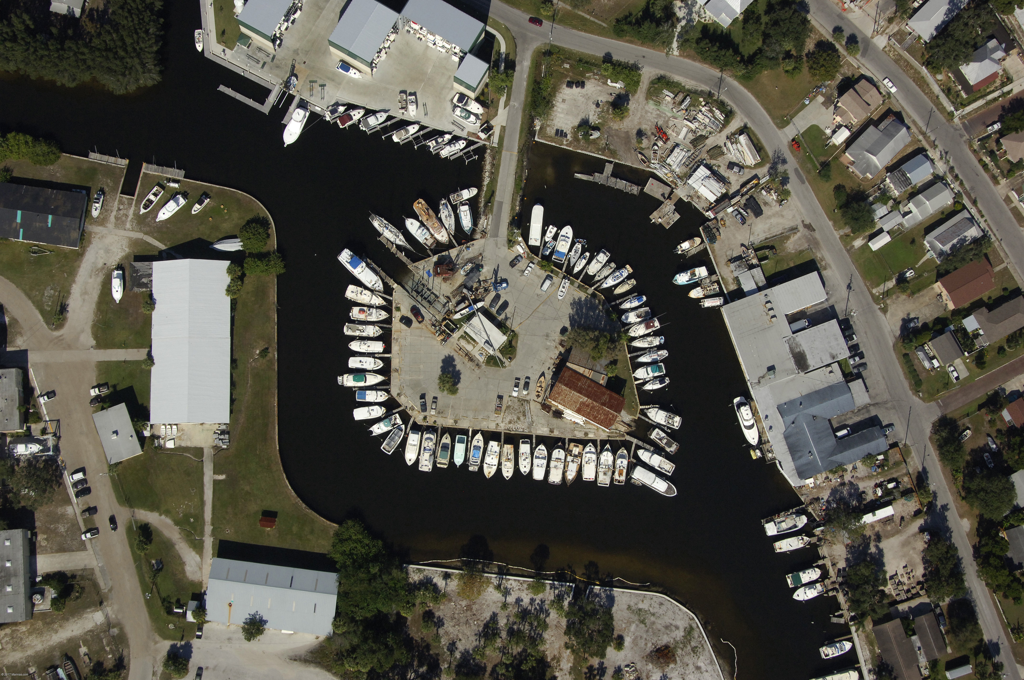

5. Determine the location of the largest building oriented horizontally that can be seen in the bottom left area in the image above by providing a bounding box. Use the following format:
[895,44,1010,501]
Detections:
[206,558,339,635]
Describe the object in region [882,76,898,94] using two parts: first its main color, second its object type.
white car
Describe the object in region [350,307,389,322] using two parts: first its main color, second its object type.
white boat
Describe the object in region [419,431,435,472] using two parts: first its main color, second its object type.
white boat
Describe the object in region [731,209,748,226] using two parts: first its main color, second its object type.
gray vehicle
